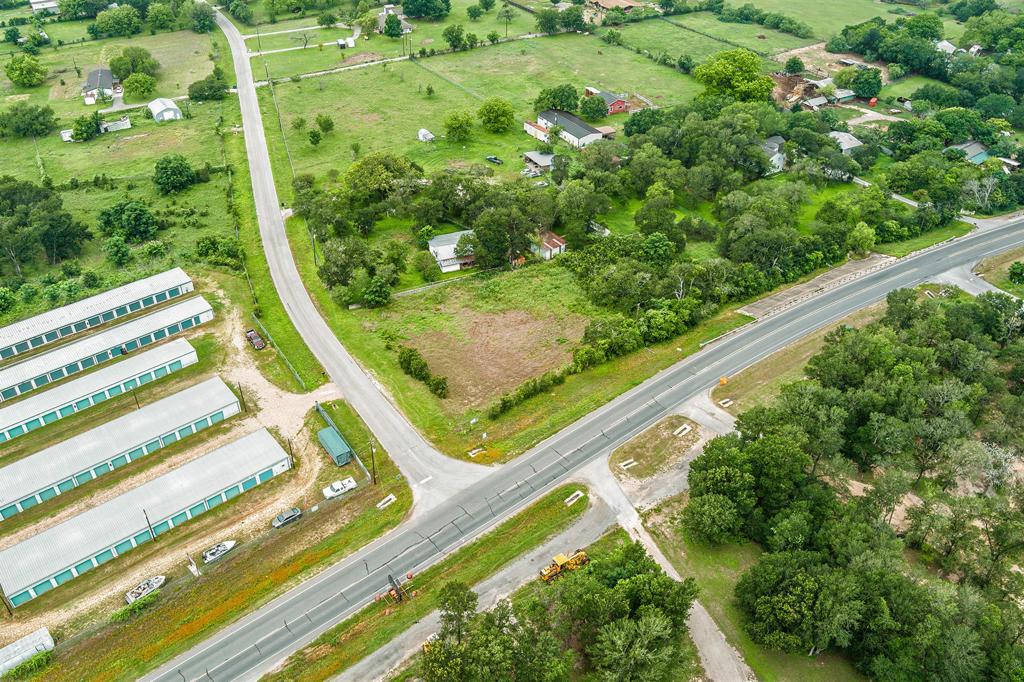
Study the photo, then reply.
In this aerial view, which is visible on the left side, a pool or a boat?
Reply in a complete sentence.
Visible on the left side is a boat.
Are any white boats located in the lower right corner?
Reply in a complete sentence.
No, looking in the lower right corner, there is no white boat.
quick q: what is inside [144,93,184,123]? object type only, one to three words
shed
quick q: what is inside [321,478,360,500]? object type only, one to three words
truck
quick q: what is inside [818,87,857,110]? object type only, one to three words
barn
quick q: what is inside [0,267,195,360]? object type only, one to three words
building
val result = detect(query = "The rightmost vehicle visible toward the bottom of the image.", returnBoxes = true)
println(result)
[544,554,595,587]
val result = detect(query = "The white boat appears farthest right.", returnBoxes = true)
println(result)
[198,538,241,563]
